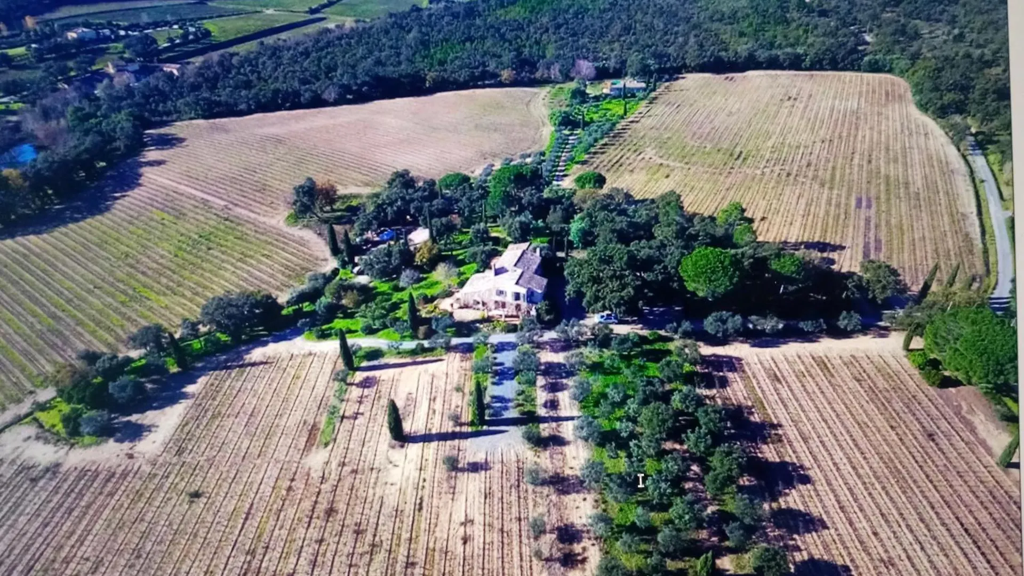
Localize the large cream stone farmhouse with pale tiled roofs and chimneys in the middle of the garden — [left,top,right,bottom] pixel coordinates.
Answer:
[458,245,551,313]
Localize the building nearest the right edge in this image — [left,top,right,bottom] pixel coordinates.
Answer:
[596,75,648,98]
